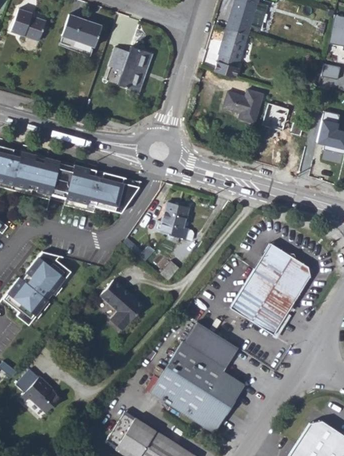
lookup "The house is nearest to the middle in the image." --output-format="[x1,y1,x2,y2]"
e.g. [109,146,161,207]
[158,198,190,236]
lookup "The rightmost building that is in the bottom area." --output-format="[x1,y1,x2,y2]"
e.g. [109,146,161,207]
[284,421,344,456]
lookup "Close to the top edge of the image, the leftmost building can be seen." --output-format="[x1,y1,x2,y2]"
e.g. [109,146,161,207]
[12,4,48,40]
